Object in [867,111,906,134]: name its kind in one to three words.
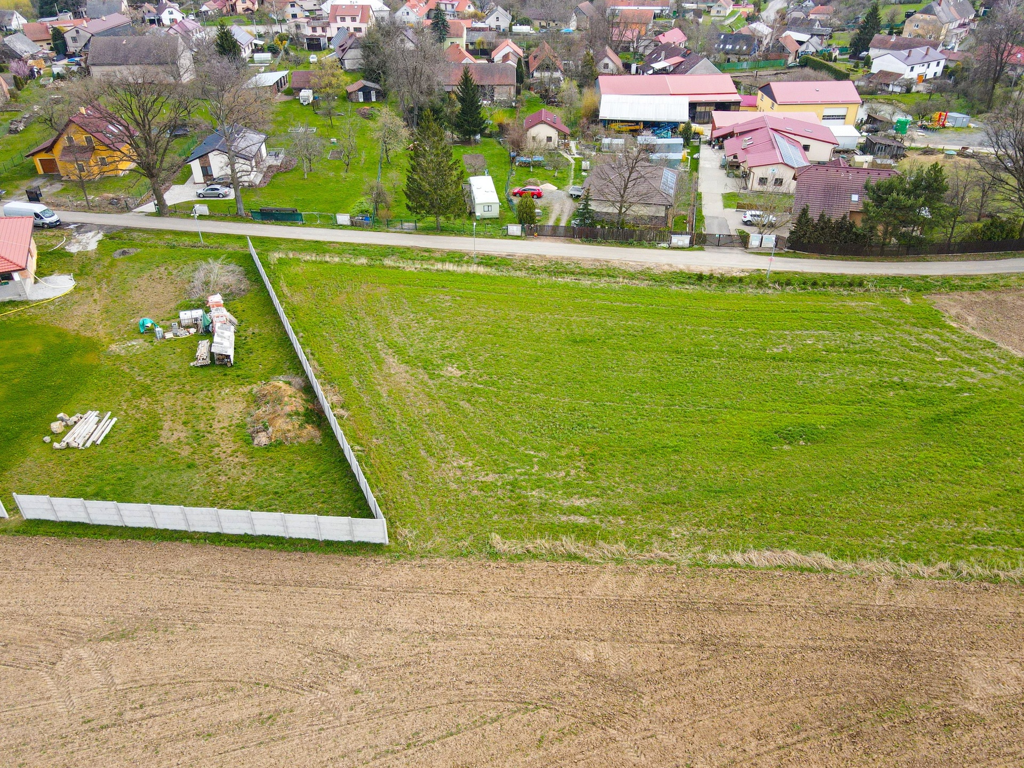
shed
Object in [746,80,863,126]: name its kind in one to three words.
building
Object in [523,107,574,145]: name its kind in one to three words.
house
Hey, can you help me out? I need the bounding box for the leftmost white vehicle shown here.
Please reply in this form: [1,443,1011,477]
[3,198,63,223]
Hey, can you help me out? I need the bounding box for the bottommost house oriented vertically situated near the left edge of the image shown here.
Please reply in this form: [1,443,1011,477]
[0,212,43,316]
